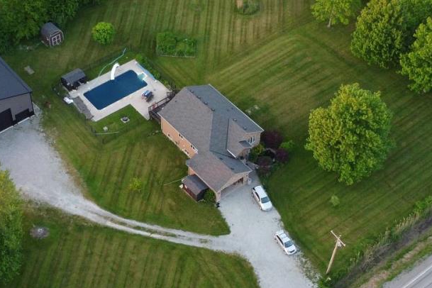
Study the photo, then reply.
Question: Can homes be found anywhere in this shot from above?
Yes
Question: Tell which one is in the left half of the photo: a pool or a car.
pool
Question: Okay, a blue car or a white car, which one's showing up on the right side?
white car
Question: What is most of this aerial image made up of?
grass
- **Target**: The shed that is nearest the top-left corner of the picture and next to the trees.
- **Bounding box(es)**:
[40,25,62,48]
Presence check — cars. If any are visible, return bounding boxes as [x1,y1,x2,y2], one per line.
[250,182,275,209]
[274,228,300,255]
